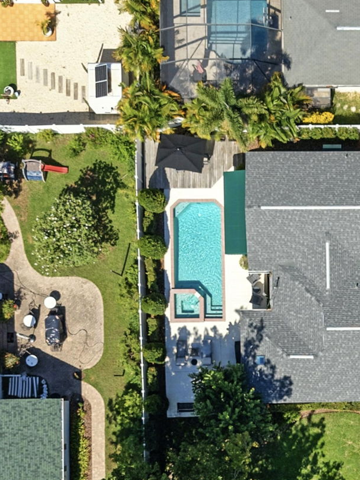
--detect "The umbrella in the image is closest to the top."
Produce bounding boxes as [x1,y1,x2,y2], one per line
[156,134,213,172]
